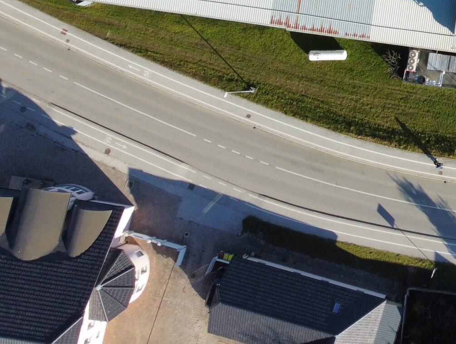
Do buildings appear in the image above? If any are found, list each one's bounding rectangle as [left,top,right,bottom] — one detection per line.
[206,254,388,344]
[77,0,456,54]
[0,184,151,344]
